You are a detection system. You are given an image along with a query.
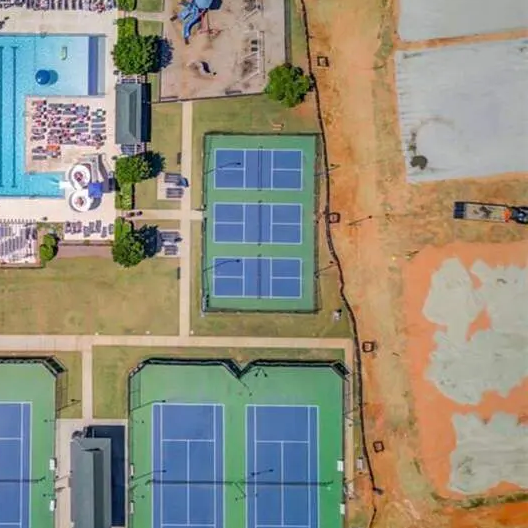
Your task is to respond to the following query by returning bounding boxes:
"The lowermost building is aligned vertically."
[72,436,112,528]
